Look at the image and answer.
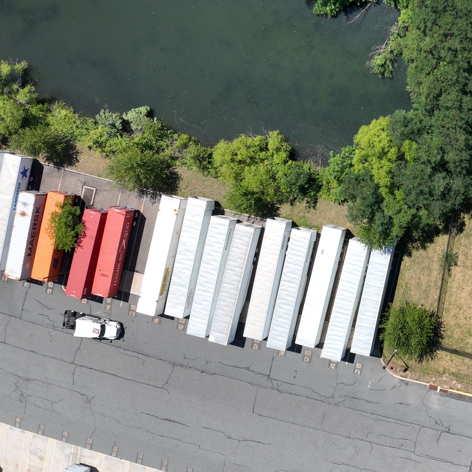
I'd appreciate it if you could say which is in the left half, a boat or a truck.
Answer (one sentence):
Looking in the left half, you will find a truck.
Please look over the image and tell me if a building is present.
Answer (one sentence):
No, there isn't any building down there.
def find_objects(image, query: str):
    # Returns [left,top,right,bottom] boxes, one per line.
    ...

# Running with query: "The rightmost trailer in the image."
[350,237,400,357]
